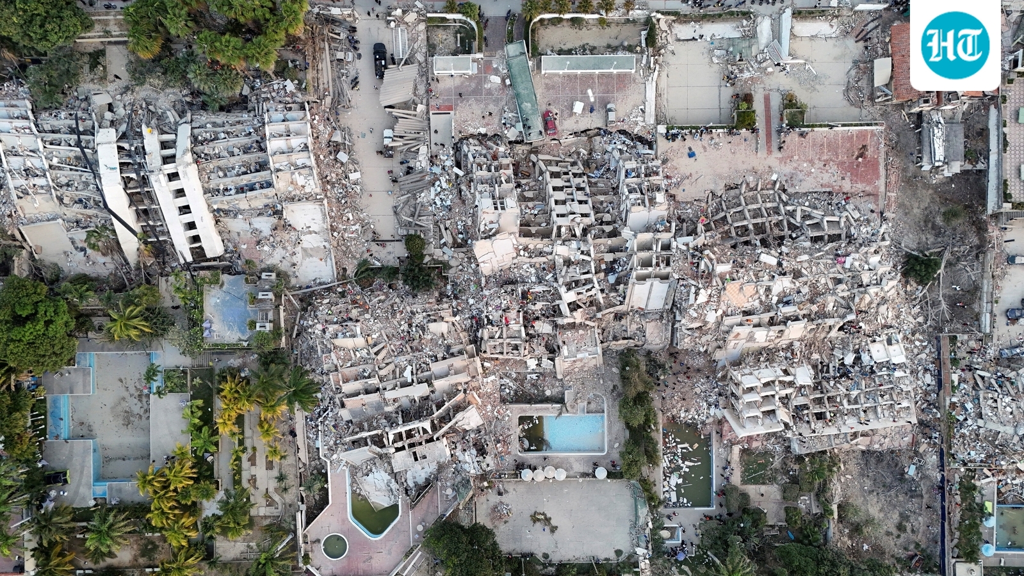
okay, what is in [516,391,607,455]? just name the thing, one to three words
swimming pool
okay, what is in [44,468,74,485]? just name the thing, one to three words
tent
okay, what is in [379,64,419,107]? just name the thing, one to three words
shed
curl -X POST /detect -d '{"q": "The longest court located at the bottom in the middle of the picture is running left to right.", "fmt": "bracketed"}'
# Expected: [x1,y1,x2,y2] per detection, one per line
[475,479,650,563]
